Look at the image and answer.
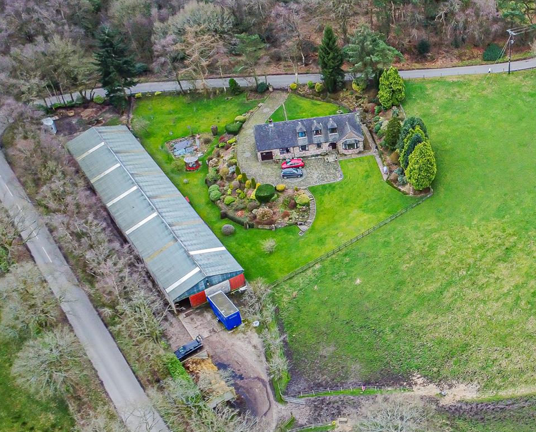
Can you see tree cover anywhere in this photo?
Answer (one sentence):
Yes, some tree cover is visible.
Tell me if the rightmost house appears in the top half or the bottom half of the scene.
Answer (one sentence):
You can find the rightmost house in the top half.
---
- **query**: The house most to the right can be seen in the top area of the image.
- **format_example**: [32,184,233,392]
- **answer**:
[252,107,365,161]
